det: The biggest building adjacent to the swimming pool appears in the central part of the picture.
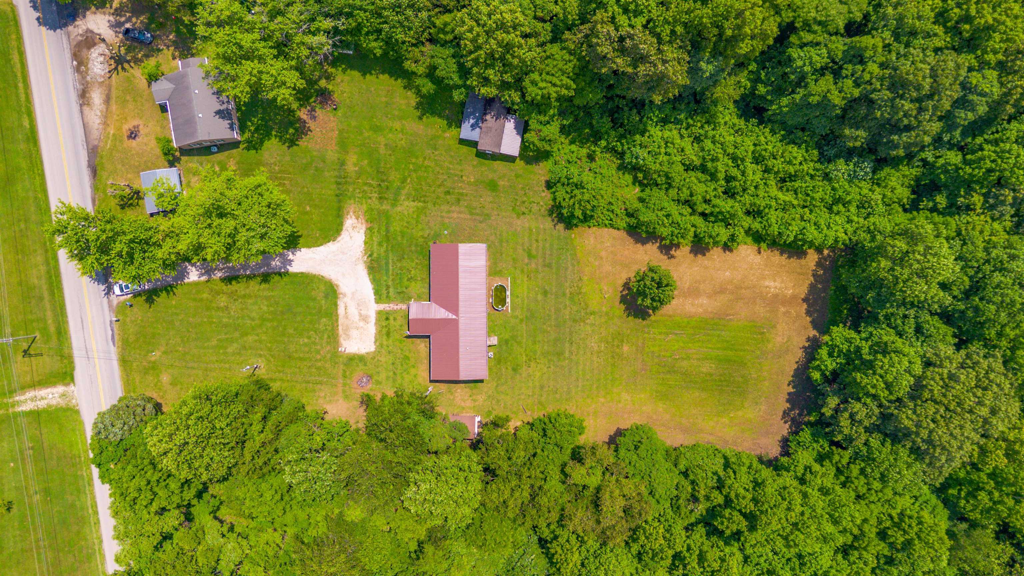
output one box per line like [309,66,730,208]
[408,242,487,382]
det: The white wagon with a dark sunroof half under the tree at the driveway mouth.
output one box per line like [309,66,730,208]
[112,279,145,296]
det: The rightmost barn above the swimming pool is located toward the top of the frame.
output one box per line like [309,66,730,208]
[460,93,523,158]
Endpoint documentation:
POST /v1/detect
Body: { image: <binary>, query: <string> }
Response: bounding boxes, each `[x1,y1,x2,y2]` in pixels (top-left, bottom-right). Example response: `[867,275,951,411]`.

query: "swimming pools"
[490,283,509,311]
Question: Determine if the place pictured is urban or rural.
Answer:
rural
